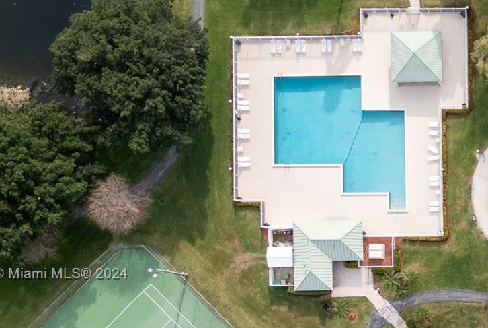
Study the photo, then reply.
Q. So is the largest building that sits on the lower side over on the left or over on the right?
right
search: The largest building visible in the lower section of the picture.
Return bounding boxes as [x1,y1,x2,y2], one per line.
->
[293,221,363,291]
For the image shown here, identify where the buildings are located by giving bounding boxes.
[293,221,363,291]
[390,29,443,87]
